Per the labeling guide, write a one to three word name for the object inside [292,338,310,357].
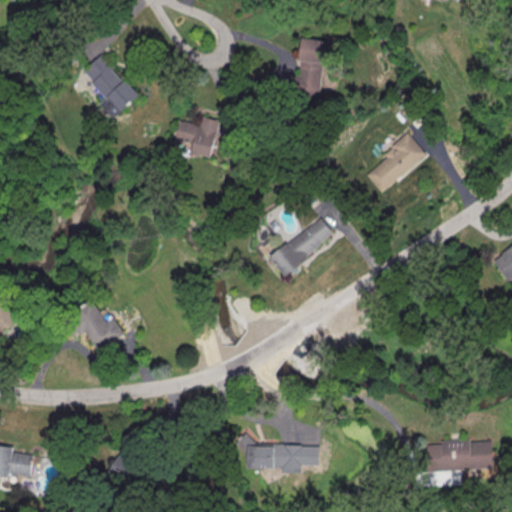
car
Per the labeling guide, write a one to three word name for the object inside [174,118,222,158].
house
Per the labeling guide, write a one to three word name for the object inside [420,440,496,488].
house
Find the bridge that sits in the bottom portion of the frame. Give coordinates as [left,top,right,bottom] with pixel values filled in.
[219,294,300,374]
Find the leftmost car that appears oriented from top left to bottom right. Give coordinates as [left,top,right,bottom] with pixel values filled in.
[324,214,338,229]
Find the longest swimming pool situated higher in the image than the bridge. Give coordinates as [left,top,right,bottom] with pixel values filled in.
[281,210,298,234]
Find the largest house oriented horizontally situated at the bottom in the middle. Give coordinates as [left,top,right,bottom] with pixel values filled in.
[246,445,320,474]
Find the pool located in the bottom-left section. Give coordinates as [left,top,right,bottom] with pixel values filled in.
[44,465,62,494]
